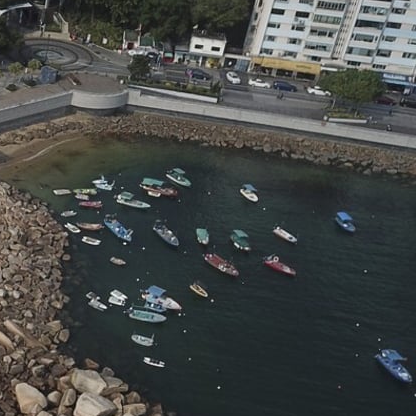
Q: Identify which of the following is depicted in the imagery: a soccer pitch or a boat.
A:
boat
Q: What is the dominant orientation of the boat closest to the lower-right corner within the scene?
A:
on a diagonal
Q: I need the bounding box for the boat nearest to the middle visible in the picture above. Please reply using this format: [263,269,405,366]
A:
[194,223,211,243]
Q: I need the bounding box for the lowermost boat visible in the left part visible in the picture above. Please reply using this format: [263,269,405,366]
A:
[143,355,166,367]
